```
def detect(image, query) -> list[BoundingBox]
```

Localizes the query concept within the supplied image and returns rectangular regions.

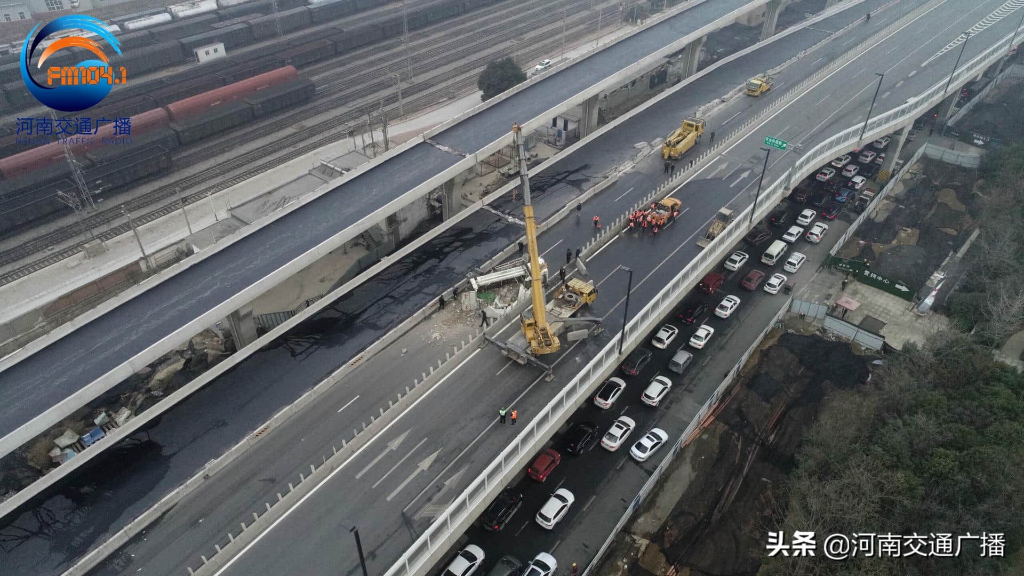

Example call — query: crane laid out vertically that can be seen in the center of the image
[479,117,606,381]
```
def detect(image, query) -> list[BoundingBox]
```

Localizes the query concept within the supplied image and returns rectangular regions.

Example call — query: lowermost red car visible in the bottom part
[525,447,563,484]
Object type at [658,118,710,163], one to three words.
truck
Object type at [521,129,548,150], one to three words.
house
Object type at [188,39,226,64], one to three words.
shed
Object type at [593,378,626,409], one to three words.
car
